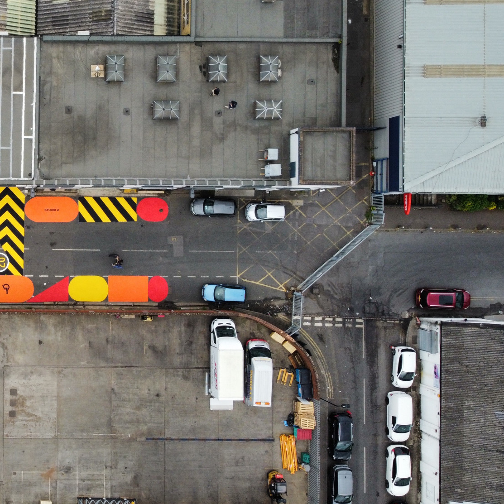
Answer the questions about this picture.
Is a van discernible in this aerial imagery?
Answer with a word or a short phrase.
Yes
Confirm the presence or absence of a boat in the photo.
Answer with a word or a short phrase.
No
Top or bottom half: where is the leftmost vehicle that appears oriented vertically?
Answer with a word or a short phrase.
bottom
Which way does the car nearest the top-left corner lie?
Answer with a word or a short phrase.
from left to right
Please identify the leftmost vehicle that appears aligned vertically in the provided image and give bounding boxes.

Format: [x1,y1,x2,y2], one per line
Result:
[201,316,243,406]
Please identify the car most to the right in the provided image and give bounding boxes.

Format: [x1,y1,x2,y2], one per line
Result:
[413,286,469,312]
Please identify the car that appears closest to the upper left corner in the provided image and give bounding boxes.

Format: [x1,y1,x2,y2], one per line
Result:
[189,195,236,219]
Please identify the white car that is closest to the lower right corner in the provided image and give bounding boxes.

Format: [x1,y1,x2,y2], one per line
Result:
[383,444,413,493]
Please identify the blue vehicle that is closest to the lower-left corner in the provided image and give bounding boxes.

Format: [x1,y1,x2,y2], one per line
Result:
[201,281,246,305]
